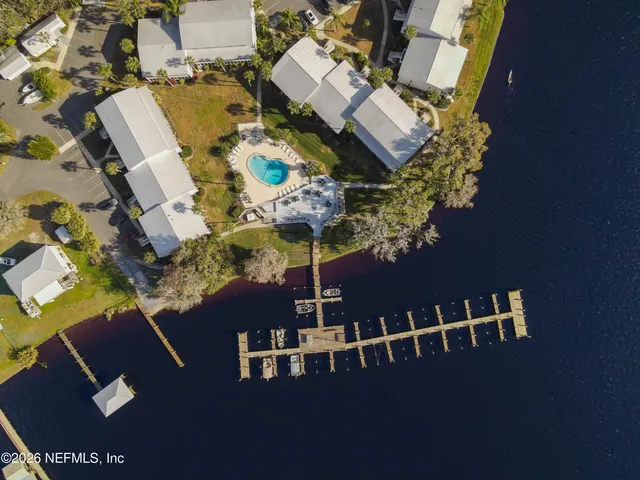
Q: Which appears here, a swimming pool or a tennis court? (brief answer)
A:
swimming pool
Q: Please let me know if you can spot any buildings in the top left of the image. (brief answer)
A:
Yes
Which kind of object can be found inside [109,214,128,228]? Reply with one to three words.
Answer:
vehicle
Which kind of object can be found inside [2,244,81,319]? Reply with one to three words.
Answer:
house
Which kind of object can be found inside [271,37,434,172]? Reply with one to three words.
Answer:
building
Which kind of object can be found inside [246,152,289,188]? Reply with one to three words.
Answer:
swimming pool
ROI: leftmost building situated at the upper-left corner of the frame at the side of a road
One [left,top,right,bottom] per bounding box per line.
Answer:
[0,44,36,82]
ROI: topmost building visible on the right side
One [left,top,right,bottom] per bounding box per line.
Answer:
[386,0,472,96]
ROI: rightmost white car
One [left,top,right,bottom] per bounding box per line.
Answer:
[305,6,319,26]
